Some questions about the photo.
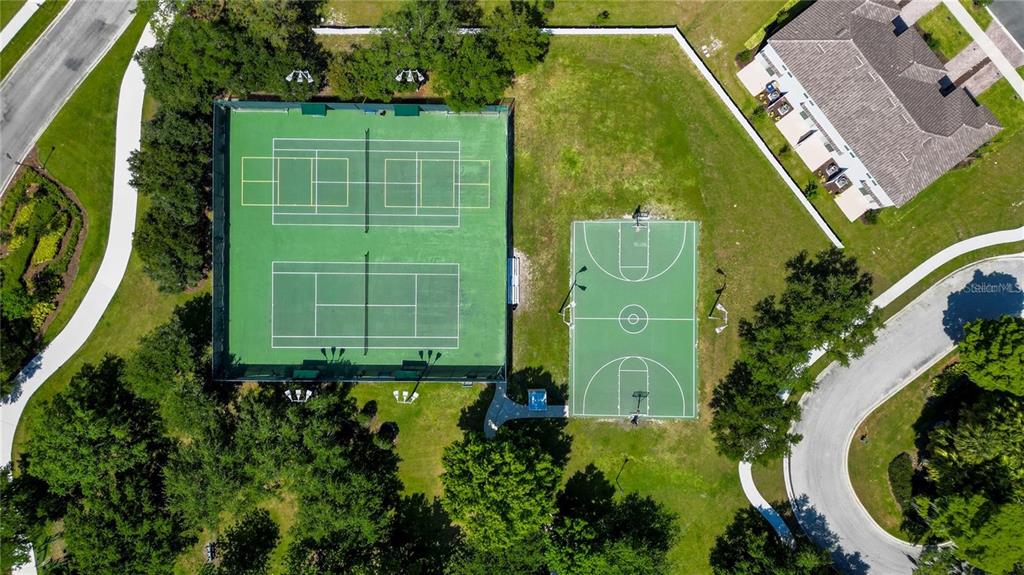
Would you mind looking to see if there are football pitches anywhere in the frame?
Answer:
No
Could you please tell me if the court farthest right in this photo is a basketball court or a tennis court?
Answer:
basketball court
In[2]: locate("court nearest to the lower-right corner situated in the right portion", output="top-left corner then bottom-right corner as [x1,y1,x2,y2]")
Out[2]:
[569,220,699,418]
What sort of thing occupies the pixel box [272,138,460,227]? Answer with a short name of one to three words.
tennis court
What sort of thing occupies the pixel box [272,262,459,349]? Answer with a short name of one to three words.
tennis court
